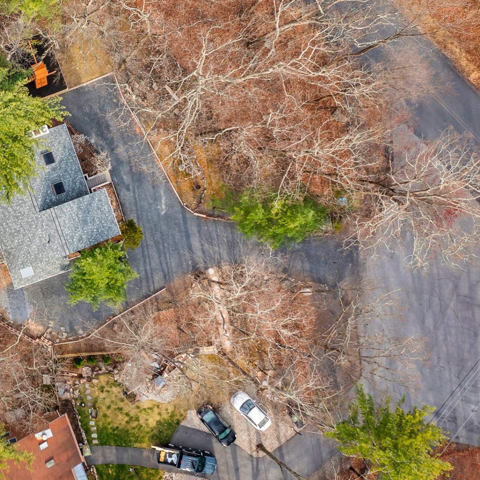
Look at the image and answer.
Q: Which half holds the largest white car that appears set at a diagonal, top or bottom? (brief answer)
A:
bottom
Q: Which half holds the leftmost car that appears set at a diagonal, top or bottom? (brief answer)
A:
bottom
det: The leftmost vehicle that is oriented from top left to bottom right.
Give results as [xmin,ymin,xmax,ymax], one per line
[196,405,242,453]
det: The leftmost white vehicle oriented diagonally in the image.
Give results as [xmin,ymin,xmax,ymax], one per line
[228,386,278,440]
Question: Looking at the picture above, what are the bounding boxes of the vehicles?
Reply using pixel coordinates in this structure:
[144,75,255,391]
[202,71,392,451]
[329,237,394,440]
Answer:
[149,448,223,480]
[196,405,242,453]
[228,386,278,440]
